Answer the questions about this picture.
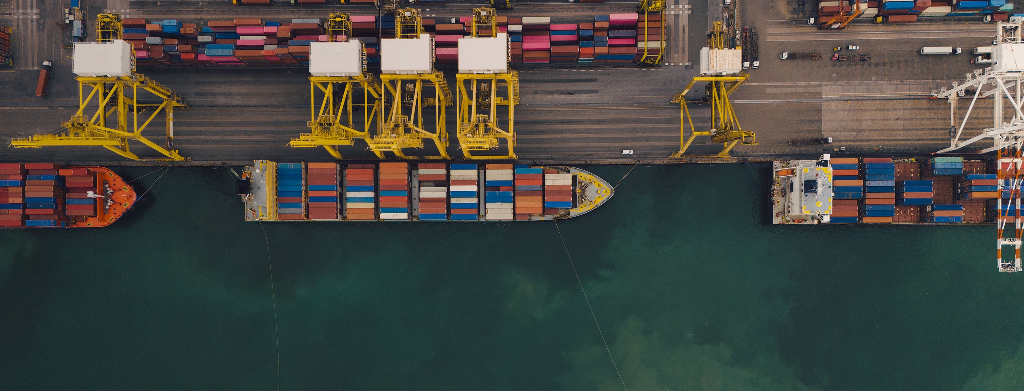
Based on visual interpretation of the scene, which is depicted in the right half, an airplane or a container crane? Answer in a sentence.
There is a container crane in the right half.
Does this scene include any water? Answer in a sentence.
Yes, water can be seen from above here.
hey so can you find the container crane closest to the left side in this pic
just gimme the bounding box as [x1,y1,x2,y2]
[3,13,189,161]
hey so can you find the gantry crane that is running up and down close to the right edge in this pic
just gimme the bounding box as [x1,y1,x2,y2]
[927,15,1024,272]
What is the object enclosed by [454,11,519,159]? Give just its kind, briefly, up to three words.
container crane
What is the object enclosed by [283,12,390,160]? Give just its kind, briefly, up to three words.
container crane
